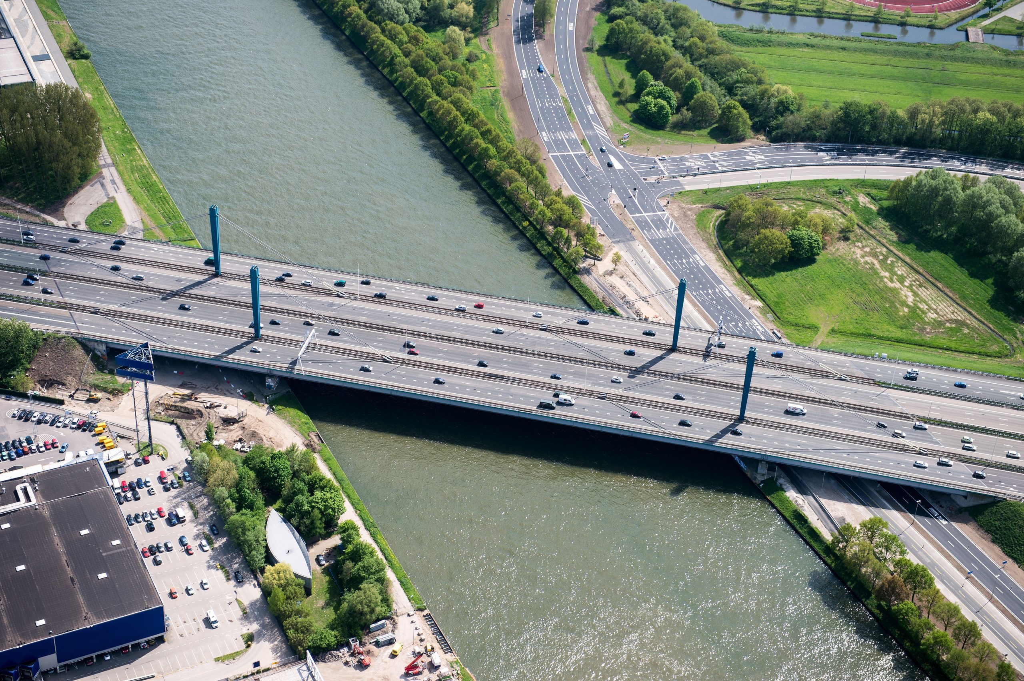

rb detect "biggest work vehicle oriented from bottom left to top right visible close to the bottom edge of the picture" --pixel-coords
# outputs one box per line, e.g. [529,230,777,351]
[405,652,436,679]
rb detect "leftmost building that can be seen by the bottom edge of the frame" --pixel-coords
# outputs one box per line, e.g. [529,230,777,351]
[0,459,174,681]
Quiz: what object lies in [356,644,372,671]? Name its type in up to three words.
work vehicle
